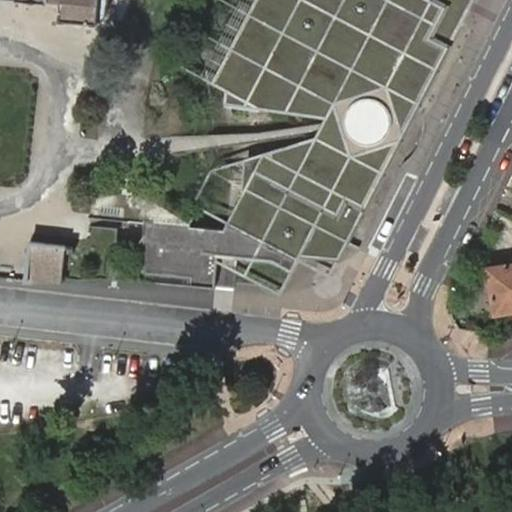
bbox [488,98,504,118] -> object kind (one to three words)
car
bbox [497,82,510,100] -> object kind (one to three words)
vehicle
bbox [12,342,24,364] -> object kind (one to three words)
vehicle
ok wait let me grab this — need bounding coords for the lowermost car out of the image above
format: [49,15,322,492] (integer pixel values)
[260,456,280,472]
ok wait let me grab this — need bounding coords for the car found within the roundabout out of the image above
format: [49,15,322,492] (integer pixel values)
[298,375,316,398]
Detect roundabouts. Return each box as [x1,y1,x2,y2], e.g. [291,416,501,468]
[286,302,462,475]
